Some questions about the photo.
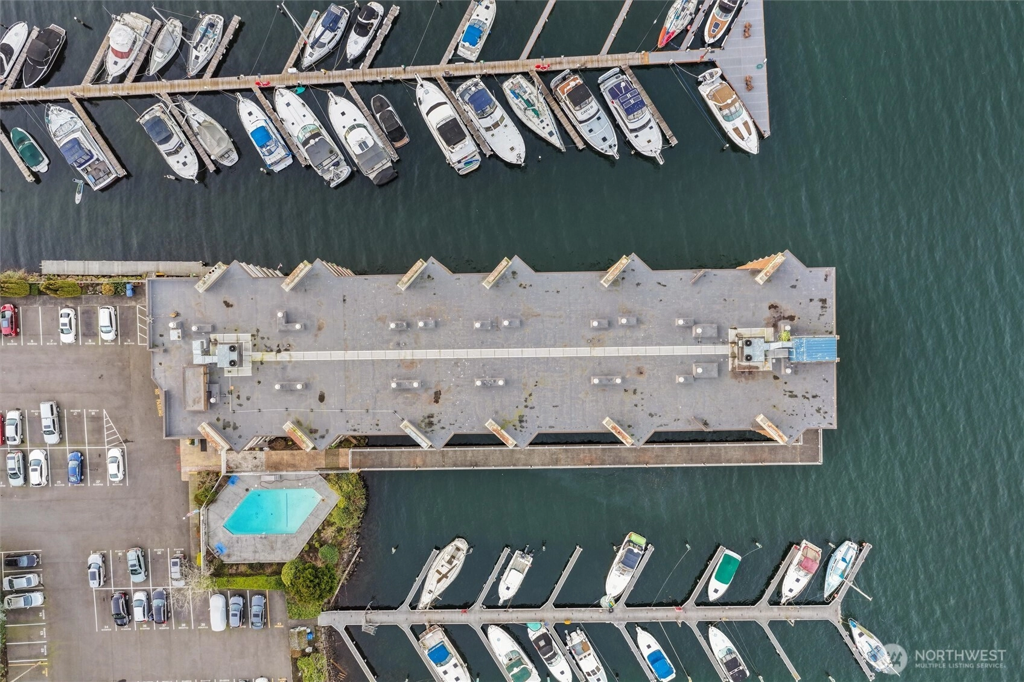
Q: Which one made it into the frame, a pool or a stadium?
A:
pool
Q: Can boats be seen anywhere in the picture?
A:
Yes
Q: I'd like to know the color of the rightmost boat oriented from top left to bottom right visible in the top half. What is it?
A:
white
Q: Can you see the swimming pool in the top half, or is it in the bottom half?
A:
bottom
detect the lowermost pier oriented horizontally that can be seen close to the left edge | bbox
[39,260,204,276]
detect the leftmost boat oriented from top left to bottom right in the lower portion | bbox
[424,624,470,682]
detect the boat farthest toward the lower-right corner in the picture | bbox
[850,622,896,681]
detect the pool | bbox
[208,473,338,563]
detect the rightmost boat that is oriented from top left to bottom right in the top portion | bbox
[695,79,760,155]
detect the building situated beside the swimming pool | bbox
[143,249,838,454]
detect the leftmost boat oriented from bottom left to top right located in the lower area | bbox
[419,534,470,614]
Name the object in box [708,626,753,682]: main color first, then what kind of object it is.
white boat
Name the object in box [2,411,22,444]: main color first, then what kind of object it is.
white car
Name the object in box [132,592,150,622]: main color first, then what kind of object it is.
white car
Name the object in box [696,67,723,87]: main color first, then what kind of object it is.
white boat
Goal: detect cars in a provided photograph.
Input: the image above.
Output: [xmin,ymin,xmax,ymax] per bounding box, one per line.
[5,451,26,485]
[105,449,124,481]
[167,555,186,586]
[4,553,36,569]
[2,411,22,444]
[97,306,116,339]
[4,592,41,609]
[249,595,266,628]
[127,549,146,581]
[86,554,106,587]
[28,451,48,485]
[227,595,245,627]
[58,308,77,341]
[132,592,150,622]
[65,452,84,482]
[111,593,131,626]
[147,589,169,623]
[39,404,62,441]
[3,574,37,591]
[0,305,18,335]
